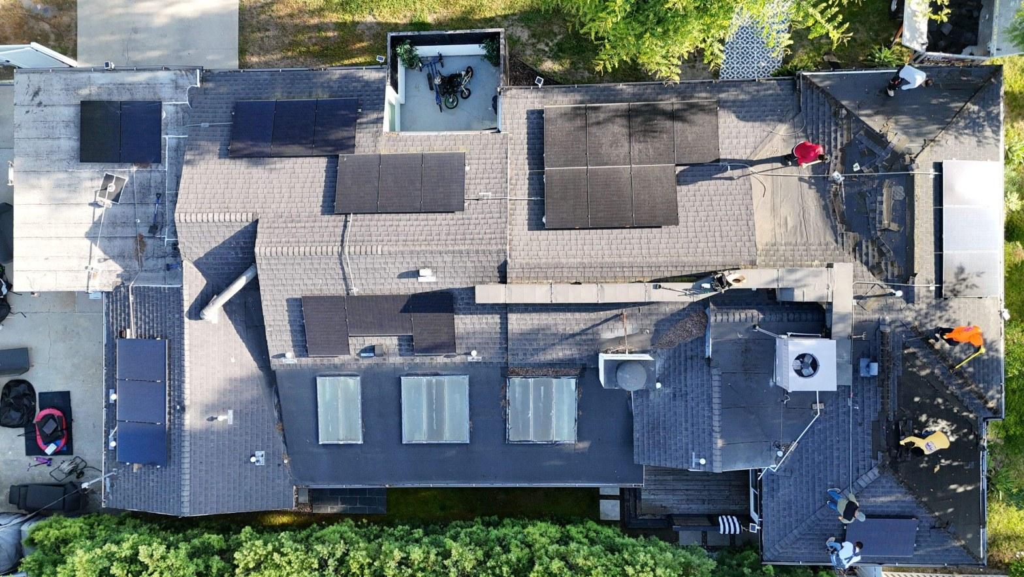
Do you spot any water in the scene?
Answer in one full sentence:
No, water can't be seen anywhere here.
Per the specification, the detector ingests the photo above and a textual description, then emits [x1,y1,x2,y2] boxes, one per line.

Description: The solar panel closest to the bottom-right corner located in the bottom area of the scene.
[845,517,918,556]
